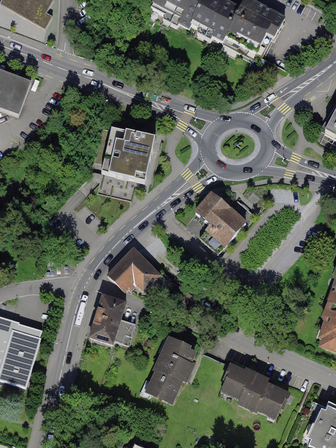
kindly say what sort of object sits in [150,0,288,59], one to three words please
building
